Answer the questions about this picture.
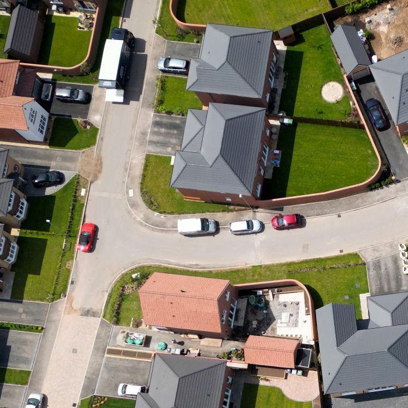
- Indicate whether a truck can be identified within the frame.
Yes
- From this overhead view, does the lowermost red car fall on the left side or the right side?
left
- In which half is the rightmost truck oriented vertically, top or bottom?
top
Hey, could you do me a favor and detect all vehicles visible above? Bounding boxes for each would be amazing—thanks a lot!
[42,80,57,98]
[230,218,264,236]
[99,35,132,109]
[361,97,392,132]
[27,392,47,408]
[78,223,99,254]
[32,172,66,190]
[177,217,217,235]
[157,57,188,75]
[118,382,148,397]
[272,214,303,230]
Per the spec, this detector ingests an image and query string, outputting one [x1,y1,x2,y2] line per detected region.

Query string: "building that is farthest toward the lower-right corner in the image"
[315,292,408,398]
